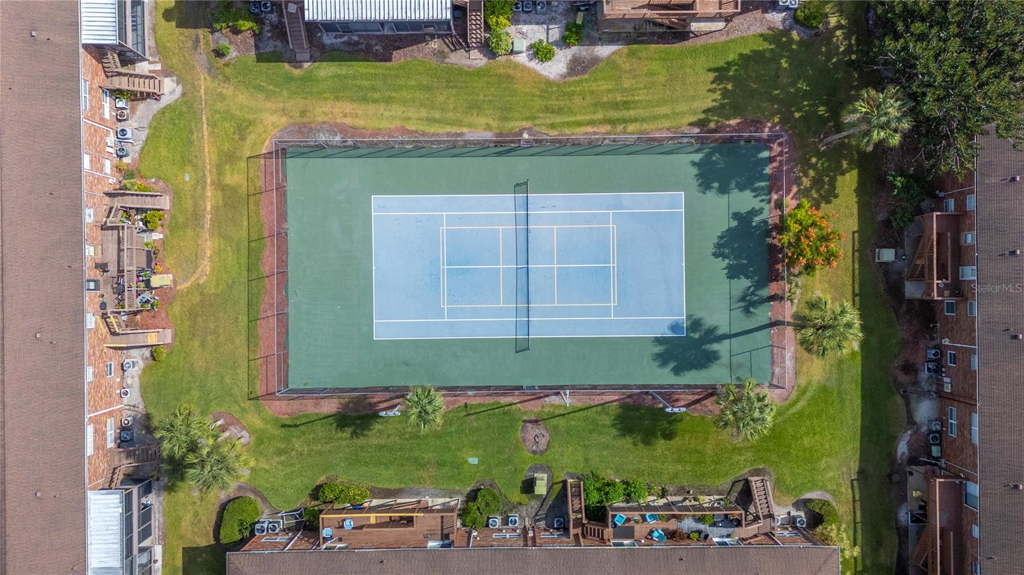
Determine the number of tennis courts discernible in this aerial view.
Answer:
1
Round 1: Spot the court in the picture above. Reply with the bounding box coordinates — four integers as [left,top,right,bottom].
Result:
[288,142,772,389]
